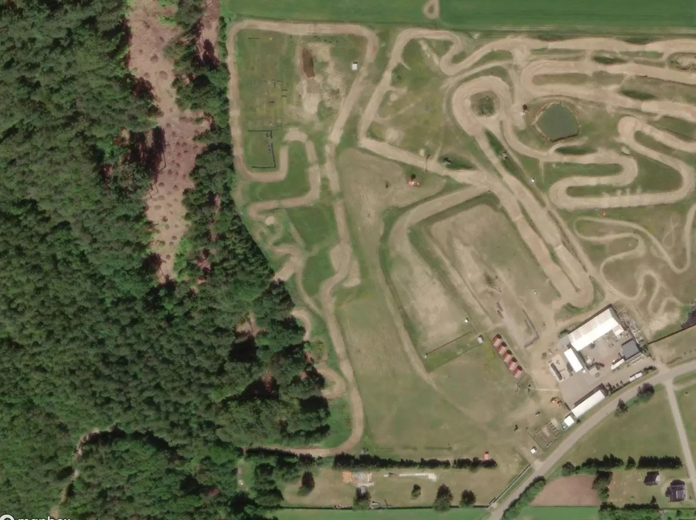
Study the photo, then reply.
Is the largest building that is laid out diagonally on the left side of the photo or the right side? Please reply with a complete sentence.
You can find the largest building that is laid out diagonally on the right side of the picture.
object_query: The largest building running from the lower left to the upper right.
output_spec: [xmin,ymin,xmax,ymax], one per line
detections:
[568,309,621,350]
